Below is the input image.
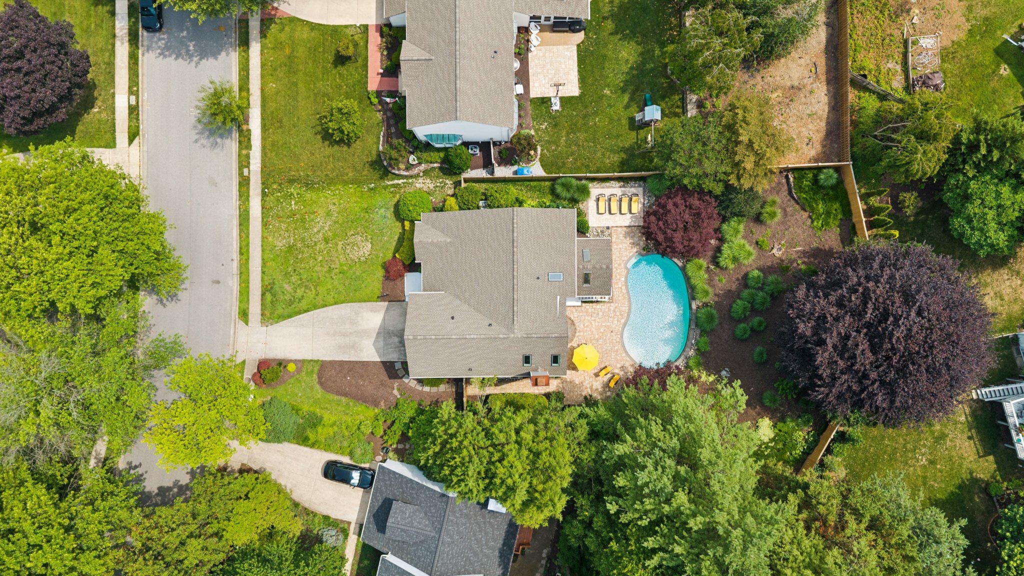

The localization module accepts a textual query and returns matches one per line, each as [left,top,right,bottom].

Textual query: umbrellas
[572,344,599,371]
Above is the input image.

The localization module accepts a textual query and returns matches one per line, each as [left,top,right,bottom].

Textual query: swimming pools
[619,249,696,372]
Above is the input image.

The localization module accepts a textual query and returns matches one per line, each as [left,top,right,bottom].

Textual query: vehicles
[321,456,376,488]
[137,0,166,28]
